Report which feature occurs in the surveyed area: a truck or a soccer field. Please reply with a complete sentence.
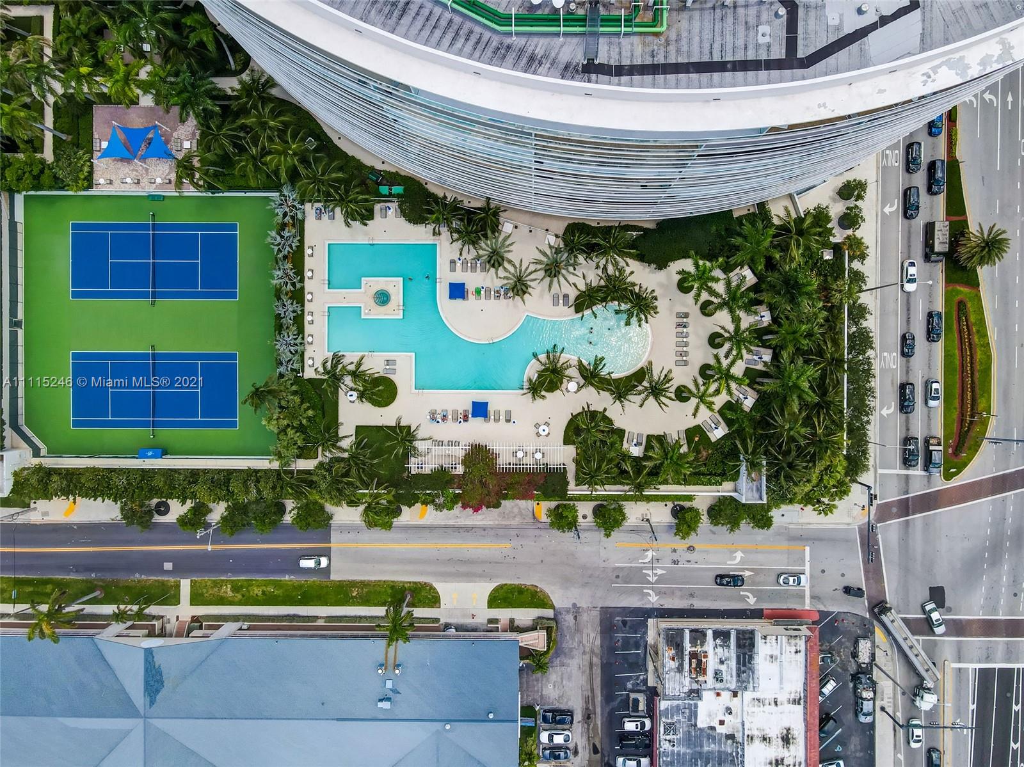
Of the two, only a truck appears.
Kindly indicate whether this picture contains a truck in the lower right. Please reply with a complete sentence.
Yes, you'll find a truck in the lower right.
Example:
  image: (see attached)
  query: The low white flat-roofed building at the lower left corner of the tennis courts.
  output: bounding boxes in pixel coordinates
[0,449,30,486]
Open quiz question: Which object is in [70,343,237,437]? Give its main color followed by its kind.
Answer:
blue tennis court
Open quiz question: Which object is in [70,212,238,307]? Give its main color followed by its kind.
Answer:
blue tennis court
